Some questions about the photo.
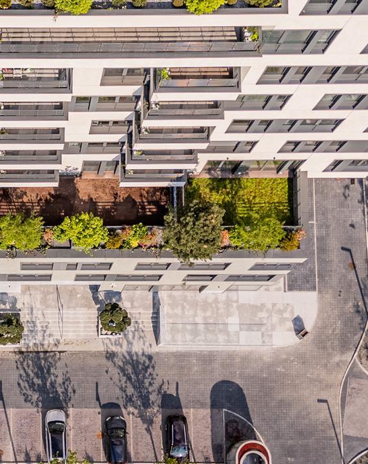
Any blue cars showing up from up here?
No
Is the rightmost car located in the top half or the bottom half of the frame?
bottom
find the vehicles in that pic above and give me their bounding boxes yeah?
[164,414,190,464]
[43,411,68,463]
[104,416,128,464]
